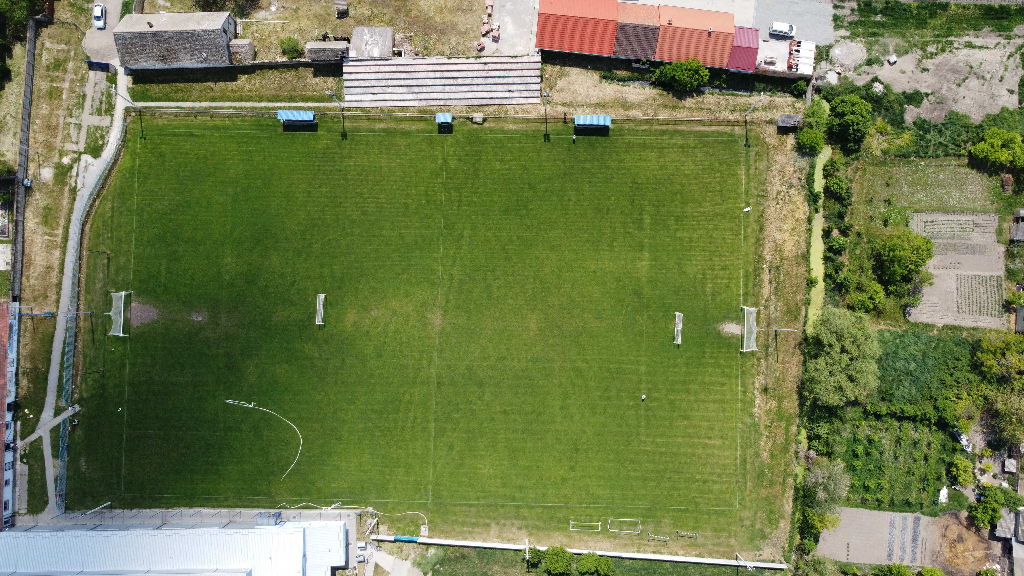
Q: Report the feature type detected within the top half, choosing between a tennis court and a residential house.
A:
residential house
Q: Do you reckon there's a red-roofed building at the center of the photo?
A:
No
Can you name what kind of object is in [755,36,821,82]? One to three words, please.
building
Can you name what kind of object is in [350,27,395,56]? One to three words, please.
shed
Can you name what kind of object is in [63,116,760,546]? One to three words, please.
soccer field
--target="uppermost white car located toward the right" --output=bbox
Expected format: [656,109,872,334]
[770,21,797,36]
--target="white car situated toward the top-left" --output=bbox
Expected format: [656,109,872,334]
[91,2,106,28]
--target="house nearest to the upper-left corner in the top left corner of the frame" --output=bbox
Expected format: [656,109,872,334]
[113,11,234,69]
